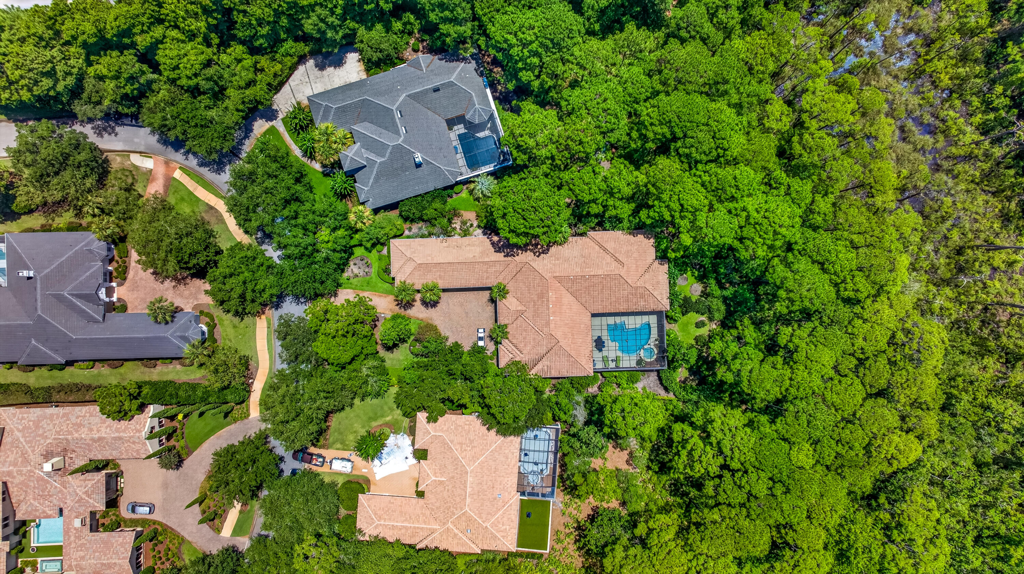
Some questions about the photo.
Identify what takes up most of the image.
trees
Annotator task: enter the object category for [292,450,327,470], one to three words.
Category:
vehicle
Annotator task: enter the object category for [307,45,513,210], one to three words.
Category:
house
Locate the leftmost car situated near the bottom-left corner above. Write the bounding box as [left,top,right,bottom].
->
[126,501,156,516]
